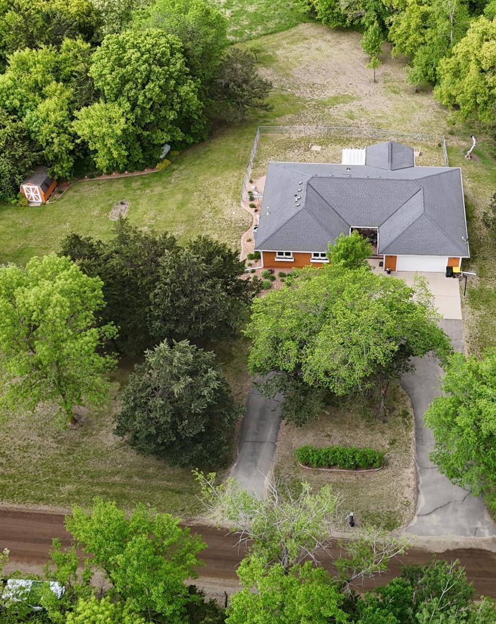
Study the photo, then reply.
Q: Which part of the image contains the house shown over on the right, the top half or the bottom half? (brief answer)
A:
top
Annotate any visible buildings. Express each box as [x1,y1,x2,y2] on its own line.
[253,141,476,276]
[18,162,56,206]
